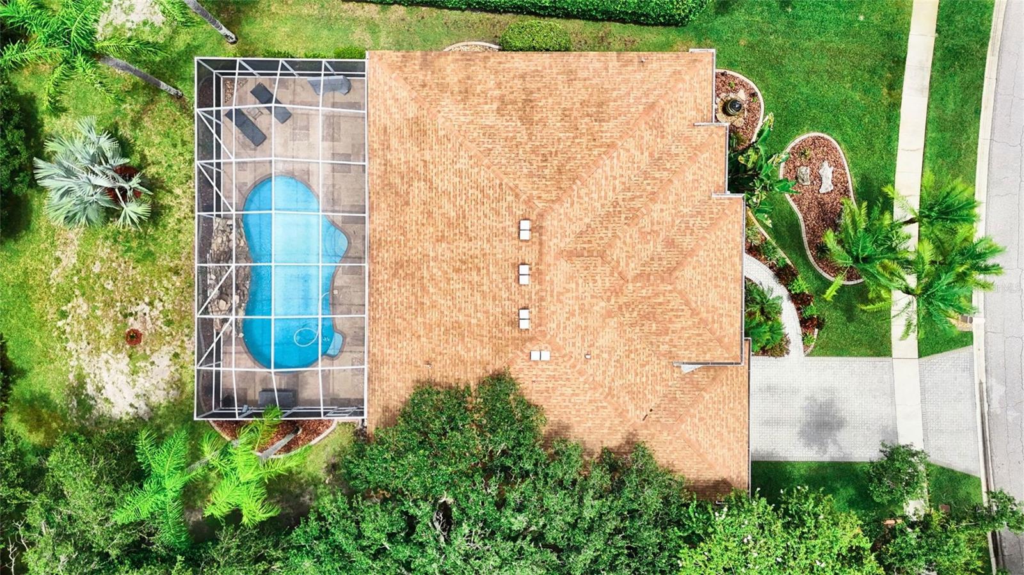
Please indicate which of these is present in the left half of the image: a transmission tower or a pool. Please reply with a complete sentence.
Visible in the left half of the image is a pool.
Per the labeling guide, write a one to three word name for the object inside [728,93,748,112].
fountain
